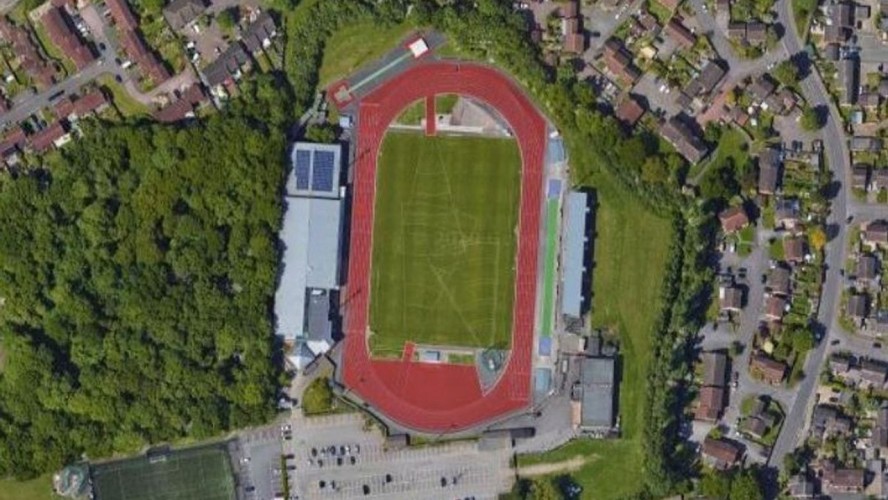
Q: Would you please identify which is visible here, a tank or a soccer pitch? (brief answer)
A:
soccer pitch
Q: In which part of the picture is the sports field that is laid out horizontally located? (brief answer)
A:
bottom left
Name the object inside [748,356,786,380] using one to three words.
house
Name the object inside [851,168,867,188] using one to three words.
house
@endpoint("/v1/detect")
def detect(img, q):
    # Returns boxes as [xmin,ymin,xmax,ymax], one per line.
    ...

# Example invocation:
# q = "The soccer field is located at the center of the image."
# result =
[367,94,523,361]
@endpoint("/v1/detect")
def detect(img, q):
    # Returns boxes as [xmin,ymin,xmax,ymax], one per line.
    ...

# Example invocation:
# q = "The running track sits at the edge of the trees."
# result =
[342,62,547,432]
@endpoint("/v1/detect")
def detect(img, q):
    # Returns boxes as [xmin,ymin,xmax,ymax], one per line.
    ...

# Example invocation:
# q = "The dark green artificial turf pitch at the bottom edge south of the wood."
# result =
[90,440,238,500]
